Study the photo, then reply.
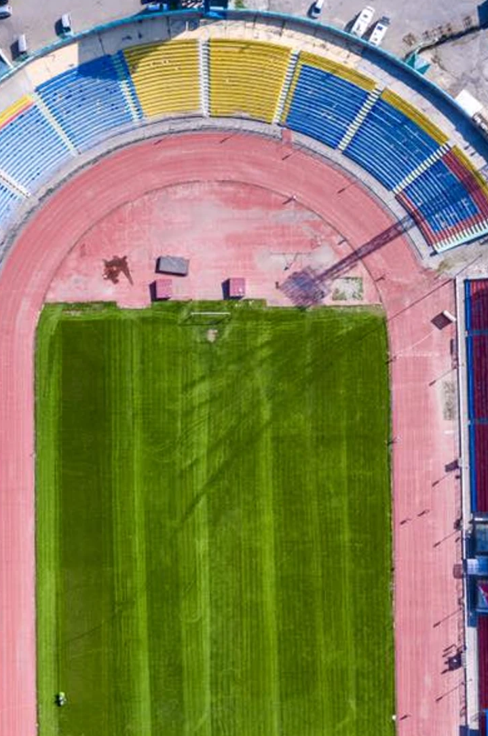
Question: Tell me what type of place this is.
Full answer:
What you see here is a sports ground.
